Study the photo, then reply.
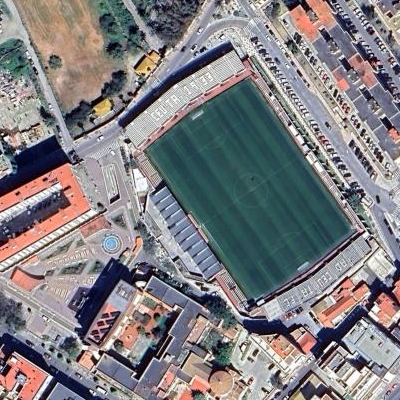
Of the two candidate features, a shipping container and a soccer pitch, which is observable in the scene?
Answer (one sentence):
I can see a soccer pitch in this picture.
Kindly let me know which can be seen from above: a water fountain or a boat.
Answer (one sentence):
There is a water fountain in the scene.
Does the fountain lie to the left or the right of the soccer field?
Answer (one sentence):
In the image, the fountain sits on the left side of the soccer field.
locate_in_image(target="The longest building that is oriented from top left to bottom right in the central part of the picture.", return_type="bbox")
[145,198,205,286]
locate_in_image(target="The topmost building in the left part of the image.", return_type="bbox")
[134,50,161,77]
